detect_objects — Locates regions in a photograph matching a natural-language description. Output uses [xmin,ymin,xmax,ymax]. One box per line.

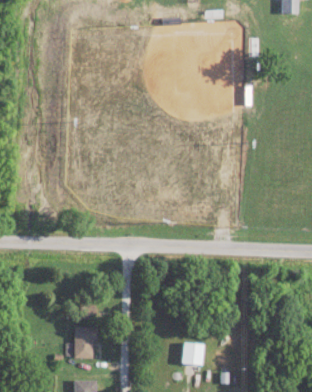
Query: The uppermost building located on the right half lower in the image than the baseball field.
[182,342,204,367]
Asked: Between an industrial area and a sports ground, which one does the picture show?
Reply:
sports ground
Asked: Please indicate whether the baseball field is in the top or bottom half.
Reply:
top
